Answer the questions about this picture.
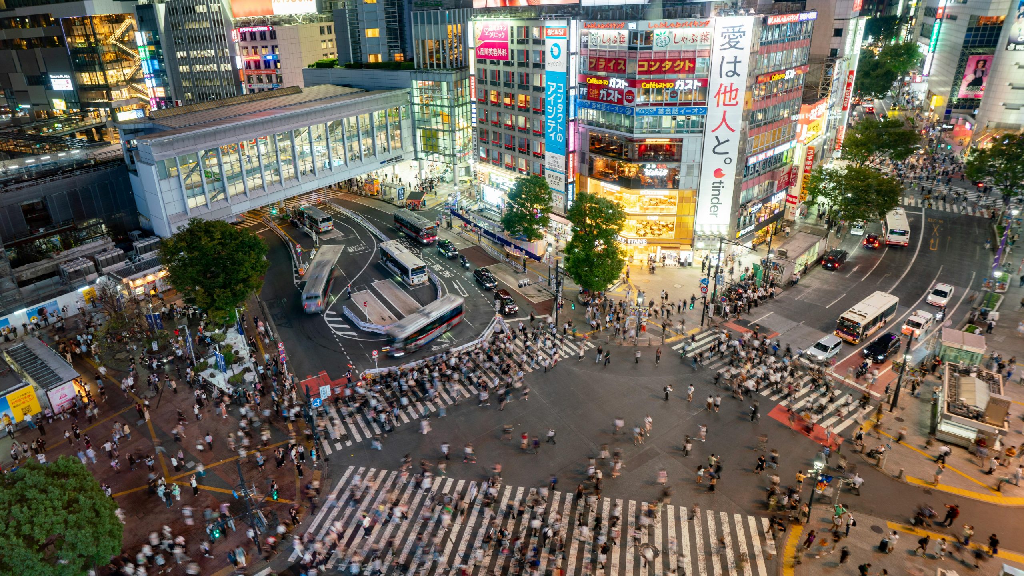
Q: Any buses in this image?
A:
Yes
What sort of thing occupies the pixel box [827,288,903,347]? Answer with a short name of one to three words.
bus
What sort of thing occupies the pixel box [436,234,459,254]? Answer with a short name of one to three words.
car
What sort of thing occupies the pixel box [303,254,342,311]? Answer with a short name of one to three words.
bus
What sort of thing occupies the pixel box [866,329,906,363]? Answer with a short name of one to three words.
car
